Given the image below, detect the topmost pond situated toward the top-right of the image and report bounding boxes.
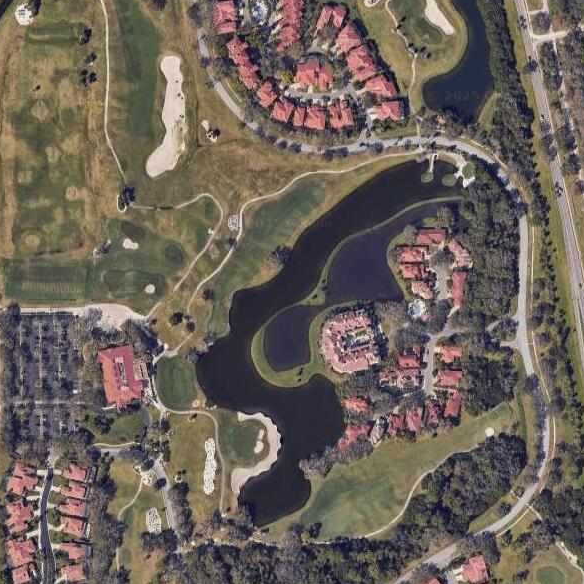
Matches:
[424,0,492,123]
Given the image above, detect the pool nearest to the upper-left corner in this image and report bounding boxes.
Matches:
[252,0,268,24]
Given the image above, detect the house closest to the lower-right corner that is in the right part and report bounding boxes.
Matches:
[463,555,487,583]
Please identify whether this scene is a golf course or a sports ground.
golf course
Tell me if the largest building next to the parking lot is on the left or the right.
left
